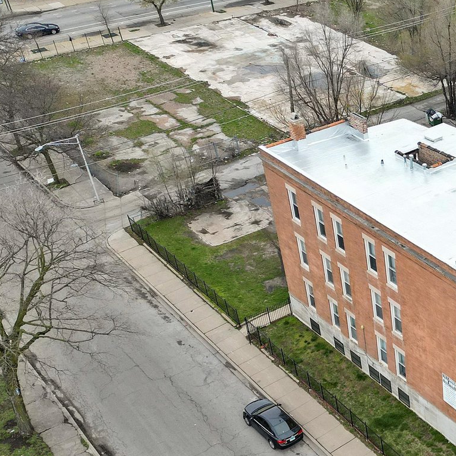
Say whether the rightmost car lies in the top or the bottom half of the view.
bottom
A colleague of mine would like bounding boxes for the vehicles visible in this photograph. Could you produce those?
[241,399,307,456]
[15,20,58,37]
